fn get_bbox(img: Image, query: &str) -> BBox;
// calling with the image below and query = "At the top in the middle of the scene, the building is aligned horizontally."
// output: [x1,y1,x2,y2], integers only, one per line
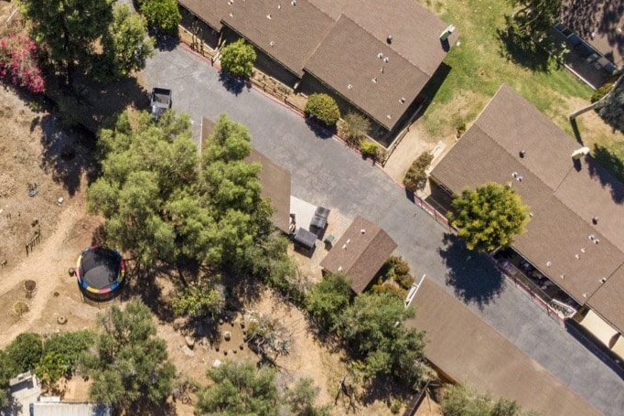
[178,0,462,131]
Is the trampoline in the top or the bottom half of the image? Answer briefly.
bottom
